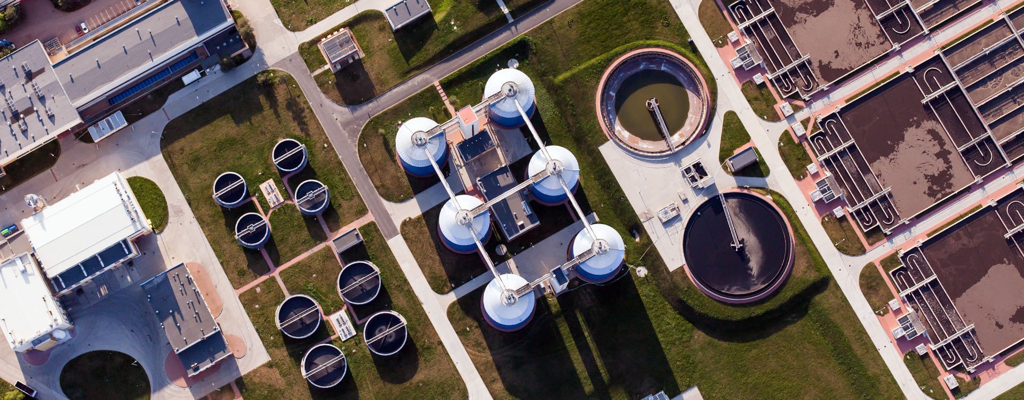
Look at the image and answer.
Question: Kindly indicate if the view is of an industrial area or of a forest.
industrial area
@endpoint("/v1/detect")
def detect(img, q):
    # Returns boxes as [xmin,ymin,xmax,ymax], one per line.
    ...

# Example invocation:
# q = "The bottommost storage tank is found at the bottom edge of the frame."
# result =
[300,343,347,389]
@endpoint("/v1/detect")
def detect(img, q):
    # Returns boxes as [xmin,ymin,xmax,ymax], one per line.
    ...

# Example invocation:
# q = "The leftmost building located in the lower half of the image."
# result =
[0,252,77,356]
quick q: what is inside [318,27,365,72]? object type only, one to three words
shed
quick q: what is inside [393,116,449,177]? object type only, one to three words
storage tank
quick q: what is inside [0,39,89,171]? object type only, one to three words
building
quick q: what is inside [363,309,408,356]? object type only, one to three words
storage tank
